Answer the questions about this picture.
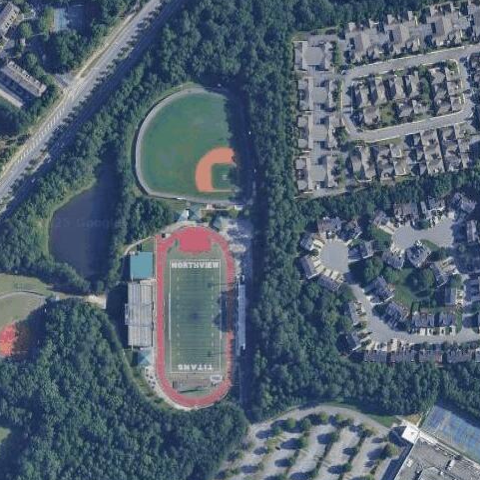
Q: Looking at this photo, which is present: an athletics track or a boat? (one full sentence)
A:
Visible in the photo is an athletics track.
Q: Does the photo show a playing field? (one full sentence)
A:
Yes, the picture does show a playing field.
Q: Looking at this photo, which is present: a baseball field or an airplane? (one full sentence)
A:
Visible in the photo is a baseball field.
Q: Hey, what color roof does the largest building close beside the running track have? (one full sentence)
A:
From above, the roof of the largest building close beside the running track looks blue.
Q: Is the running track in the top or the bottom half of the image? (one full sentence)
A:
The bottom half of the photo is where the running track is.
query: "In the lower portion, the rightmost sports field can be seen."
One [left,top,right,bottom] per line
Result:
[164,240,226,401]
